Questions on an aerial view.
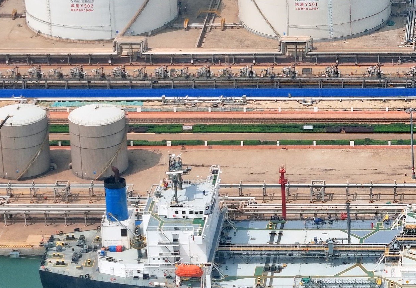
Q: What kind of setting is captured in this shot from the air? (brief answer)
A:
industrial area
